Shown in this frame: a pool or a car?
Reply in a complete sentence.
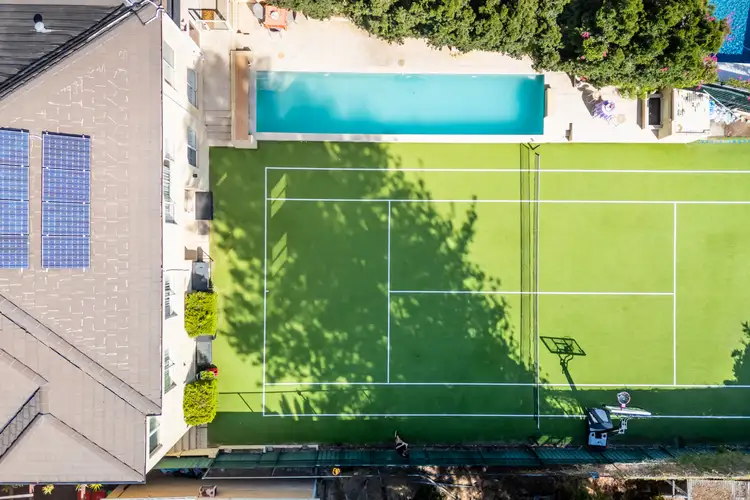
Of the two, only a pool appears.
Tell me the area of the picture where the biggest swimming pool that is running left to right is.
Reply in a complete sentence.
The biggest swimming pool that is running left to right is in the top part of the image.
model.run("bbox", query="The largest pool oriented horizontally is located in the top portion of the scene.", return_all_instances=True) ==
[250,72,544,139]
